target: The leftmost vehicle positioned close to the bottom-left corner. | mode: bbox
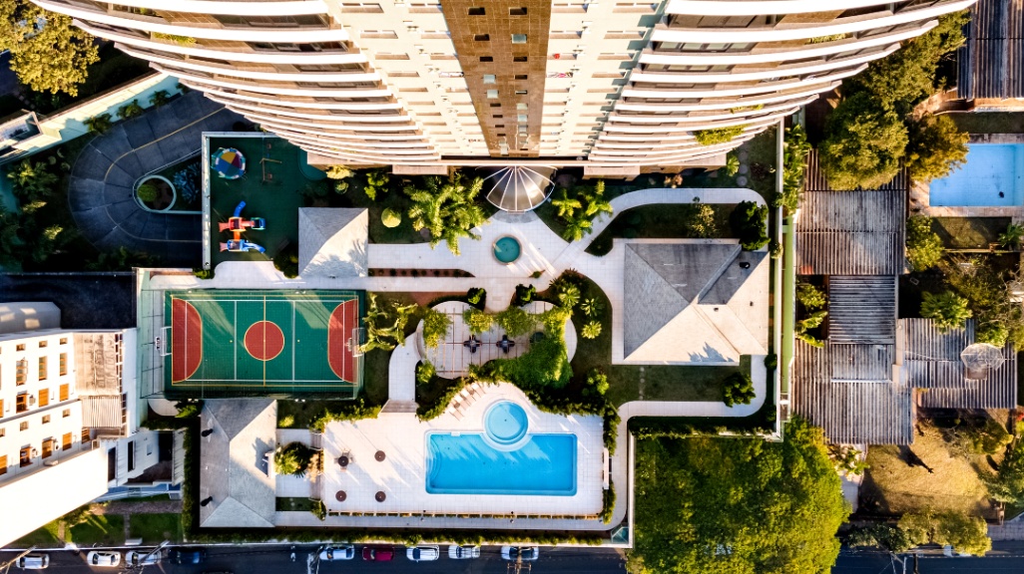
[18,551,54,571]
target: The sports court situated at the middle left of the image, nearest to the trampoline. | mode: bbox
[164,289,364,399]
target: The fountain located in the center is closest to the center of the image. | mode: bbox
[492,234,522,264]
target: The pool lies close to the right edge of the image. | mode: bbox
[931,142,1024,206]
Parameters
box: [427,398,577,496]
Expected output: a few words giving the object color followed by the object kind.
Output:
blue swimming pool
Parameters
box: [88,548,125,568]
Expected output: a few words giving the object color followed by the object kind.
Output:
white car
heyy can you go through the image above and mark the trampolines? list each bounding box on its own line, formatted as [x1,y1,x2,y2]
[212,146,250,180]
